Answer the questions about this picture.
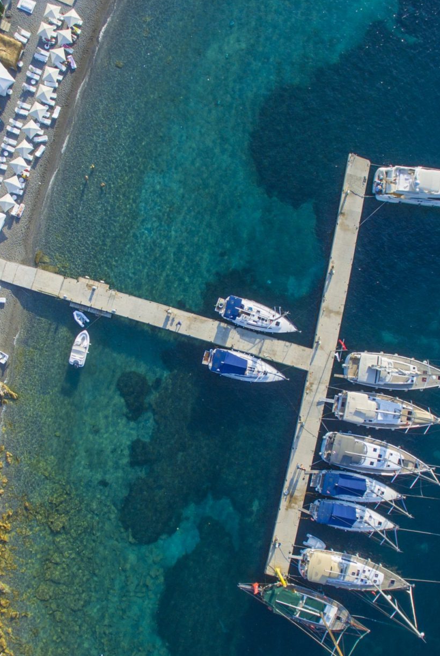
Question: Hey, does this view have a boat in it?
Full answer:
Yes, you can see a boat in this photo.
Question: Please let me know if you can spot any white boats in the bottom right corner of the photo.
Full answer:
Yes, you'll find a white boat in the bottom right corner of the photo.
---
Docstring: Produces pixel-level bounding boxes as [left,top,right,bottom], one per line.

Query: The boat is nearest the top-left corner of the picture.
[73,310,90,327]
